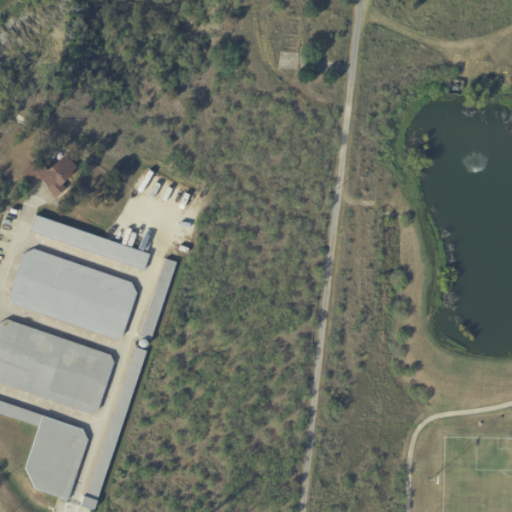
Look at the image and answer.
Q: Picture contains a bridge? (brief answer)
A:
No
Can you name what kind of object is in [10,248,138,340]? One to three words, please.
building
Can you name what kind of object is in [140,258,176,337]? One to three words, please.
building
